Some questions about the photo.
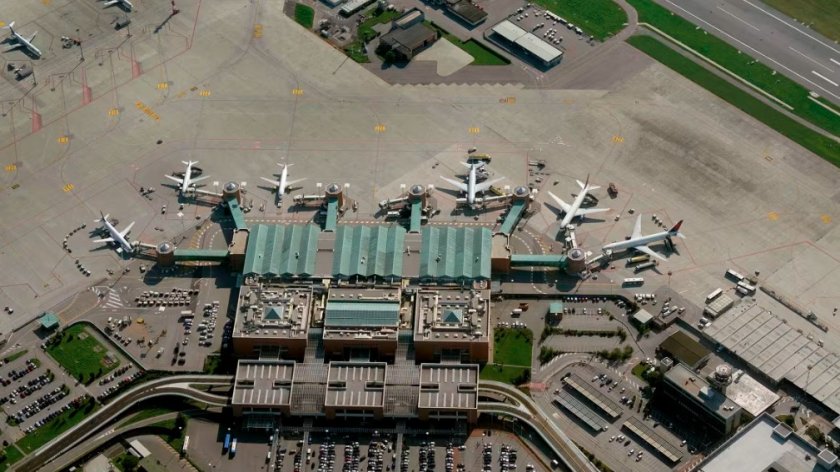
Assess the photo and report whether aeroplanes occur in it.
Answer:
Yes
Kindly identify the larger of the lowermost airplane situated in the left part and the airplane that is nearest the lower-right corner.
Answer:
the airplane that is nearest the lower-right corner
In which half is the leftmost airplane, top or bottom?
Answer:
top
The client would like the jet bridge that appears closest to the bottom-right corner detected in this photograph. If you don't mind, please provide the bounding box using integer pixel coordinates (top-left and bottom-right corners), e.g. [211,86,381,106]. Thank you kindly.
[584,250,613,267]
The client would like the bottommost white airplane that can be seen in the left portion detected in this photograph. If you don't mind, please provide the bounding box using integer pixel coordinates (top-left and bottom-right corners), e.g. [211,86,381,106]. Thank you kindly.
[95,215,139,253]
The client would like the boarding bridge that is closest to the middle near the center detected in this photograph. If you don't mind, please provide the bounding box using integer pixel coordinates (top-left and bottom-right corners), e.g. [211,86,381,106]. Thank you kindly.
[377,196,410,209]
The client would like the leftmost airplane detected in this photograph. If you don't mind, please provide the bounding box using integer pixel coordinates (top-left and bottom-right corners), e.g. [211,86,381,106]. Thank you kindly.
[2,22,40,55]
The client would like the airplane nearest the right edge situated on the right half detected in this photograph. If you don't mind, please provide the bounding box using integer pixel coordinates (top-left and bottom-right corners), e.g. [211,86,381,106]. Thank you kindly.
[602,216,685,263]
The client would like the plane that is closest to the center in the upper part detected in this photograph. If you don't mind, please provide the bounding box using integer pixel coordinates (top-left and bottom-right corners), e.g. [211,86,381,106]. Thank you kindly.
[440,162,505,209]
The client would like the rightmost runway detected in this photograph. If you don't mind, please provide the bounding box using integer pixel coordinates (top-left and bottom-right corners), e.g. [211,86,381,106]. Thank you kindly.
[653,0,840,110]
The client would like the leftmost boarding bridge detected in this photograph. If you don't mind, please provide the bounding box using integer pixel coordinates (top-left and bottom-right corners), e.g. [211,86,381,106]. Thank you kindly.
[129,241,158,254]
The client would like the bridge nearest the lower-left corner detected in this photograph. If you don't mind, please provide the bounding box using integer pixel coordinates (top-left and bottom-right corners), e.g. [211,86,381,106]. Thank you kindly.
[0,373,233,472]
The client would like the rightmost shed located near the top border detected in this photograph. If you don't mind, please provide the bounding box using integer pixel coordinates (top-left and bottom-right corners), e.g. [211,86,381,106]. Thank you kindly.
[483,19,563,73]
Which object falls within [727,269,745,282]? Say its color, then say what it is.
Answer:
white vehicle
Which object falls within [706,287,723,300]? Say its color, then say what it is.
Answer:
white vehicle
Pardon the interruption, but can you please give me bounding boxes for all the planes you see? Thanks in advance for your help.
[2,22,40,55]
[550,175,613,227]
[440,162,505,209]
[259,160,307,207]
[121,0,133,8]
[602,216,685,263]
[95,215,139,253]
[163,154,212,193]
